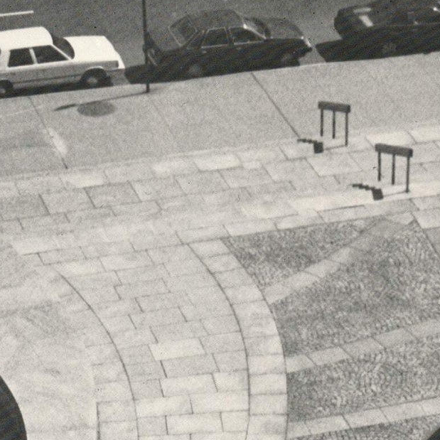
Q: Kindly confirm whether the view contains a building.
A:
No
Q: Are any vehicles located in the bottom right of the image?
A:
No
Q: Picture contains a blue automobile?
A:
No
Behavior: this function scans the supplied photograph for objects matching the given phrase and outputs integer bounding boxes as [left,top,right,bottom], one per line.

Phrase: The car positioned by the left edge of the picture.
[0,23,127,98]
